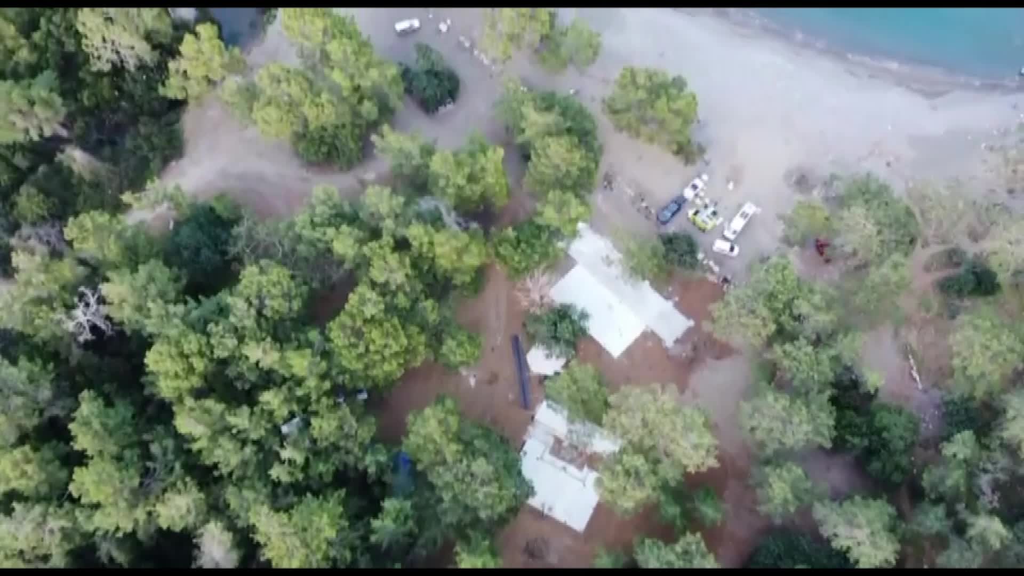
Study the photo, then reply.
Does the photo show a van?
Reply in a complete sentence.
Yes, a van is visible in the scene.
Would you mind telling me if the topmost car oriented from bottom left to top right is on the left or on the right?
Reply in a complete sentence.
The topmost car oriented from bottom left to top right sits on the right side.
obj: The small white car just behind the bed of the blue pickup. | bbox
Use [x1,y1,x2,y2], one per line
[682,174,710,199]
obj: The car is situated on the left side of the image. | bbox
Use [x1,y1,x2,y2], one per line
[392,16,422,33]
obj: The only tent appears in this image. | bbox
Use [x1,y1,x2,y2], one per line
[282,408,313,434]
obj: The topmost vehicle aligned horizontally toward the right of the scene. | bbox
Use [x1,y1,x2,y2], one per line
[712,239,742,255]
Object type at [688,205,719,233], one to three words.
car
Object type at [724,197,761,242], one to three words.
van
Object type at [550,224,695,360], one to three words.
building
